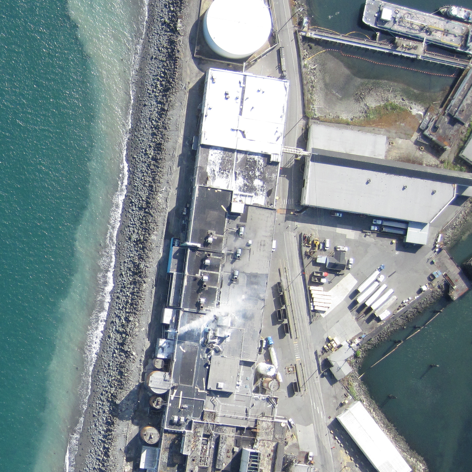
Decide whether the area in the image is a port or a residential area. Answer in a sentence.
This image shows a port.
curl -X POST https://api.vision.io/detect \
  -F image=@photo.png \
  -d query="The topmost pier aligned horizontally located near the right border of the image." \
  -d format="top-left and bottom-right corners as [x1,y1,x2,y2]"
[300,27,469,70]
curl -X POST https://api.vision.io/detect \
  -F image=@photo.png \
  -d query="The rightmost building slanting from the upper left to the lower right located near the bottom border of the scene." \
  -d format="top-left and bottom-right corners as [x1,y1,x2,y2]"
[337,401,412,472]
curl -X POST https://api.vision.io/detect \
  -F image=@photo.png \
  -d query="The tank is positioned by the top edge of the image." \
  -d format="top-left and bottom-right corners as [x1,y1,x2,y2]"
[203,0,272,59]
